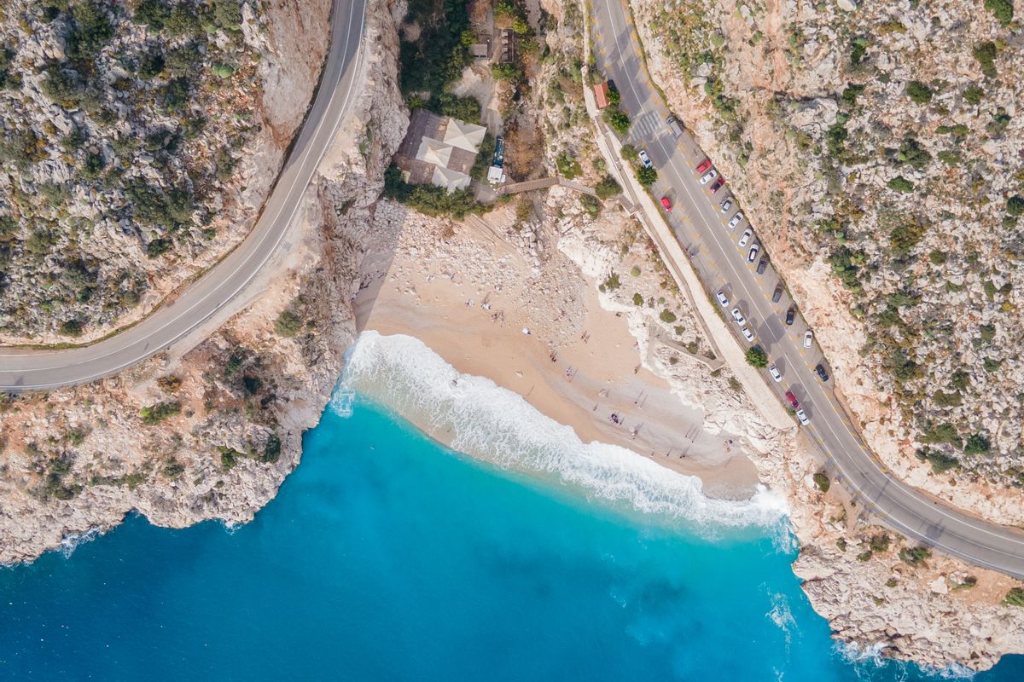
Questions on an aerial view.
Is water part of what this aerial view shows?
Yes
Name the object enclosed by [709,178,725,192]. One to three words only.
car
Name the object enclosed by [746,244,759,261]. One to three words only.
vehicle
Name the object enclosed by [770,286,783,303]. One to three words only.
vehicle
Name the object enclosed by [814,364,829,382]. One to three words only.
car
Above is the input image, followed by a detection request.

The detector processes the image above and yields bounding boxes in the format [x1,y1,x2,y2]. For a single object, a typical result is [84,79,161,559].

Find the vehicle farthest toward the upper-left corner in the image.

[486,136,505,183]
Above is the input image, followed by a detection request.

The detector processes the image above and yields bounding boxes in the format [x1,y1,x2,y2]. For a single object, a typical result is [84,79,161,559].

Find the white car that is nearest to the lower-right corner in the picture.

[796,408,810,426]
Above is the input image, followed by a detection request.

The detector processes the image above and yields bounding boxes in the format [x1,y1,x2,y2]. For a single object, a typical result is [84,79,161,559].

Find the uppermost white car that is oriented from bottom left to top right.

[699,169,717,185]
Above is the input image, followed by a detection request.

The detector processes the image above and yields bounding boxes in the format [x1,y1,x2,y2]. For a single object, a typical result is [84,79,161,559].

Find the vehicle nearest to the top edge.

[667,117,684,138]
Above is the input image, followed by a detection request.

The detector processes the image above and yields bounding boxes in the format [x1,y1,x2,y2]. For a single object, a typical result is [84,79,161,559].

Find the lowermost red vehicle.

[785,390,799,408]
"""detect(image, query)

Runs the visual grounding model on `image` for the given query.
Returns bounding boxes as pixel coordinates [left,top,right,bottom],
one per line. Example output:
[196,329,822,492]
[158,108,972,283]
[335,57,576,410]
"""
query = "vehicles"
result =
[715,290,729,308]
[486,136,505,183]
[667,117,684,138]
[770,286,783,303]
[659,196,672,213]
[746,244,759,261]
[785,390,799,408]
[784,307,795,324]
[740,326,755,344]
[709,178,725,192]
[801,331,812,348]
[737,229,752,246]
[639,150,653,168]
[796,408,810,426]
[699,169,717,185]
[769,365,783,383]
[755,256,768,274]
[695,159,712,173]
[727,211,742,228]
[731,308,746,326]
[814,364,829,382]
[719,197,734,213]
